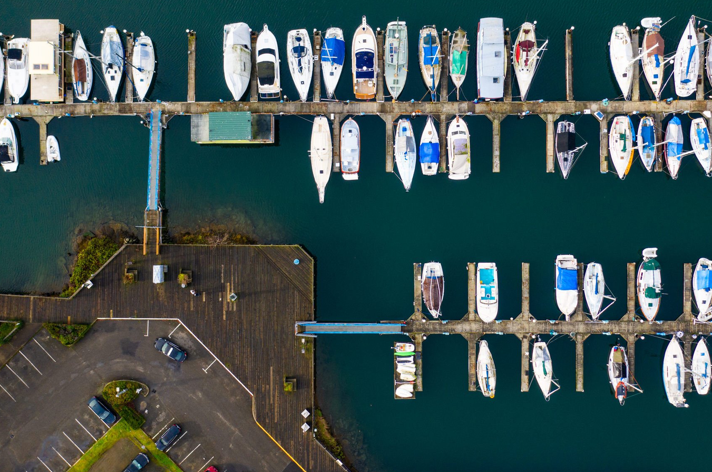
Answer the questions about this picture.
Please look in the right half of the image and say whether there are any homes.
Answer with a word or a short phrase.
No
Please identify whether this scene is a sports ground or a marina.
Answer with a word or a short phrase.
marina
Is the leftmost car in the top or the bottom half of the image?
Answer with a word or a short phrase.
bottom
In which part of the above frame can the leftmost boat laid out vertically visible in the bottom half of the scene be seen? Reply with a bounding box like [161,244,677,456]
[422,259,445,319]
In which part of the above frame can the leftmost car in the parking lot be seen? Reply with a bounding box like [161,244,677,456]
[87,395,118,426]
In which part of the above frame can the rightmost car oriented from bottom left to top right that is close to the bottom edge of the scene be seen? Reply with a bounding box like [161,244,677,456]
[154,422,185,452]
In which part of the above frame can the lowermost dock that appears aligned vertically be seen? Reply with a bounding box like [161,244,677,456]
[394,343,415,400]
